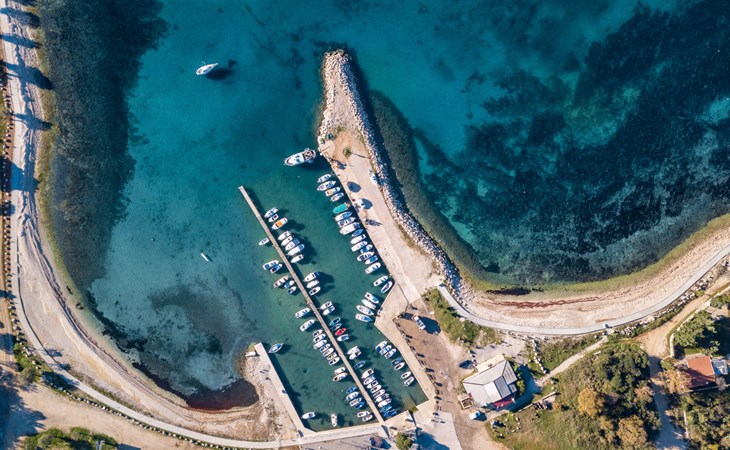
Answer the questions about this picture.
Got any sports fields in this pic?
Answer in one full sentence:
No, the scene contains no sports field.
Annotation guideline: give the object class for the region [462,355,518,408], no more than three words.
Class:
house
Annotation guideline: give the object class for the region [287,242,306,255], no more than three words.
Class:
boat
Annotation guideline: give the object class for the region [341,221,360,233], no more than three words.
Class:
boat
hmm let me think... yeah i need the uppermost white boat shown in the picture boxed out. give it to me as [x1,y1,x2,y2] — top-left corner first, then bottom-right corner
[195,59,217,76]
